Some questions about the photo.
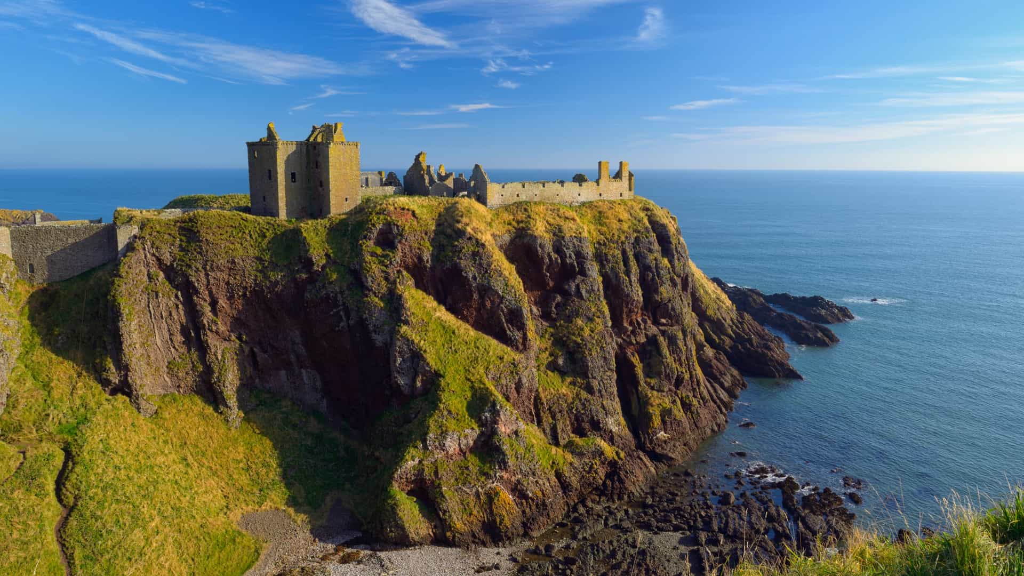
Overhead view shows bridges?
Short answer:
No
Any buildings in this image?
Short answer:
Yes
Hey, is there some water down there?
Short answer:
Yes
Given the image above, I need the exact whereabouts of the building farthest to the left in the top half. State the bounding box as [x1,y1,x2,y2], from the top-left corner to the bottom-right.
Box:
[244,123,361,218]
